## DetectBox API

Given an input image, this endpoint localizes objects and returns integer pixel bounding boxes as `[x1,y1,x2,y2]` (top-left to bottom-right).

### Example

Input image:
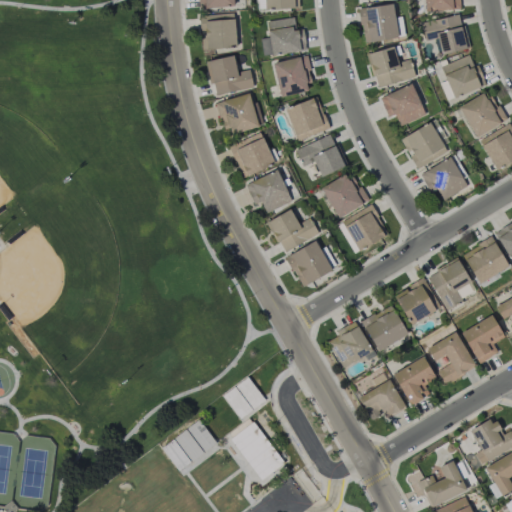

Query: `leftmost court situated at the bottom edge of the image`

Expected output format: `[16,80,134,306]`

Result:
[0,432,20,504]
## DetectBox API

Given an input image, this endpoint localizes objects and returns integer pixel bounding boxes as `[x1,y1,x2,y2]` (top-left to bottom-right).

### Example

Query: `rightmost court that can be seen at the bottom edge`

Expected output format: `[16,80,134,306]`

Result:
[16,436,57,508]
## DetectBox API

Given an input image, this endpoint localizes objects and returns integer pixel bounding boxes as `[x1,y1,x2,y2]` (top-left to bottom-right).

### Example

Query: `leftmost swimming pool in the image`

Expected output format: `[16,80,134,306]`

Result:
[276,114,292,136]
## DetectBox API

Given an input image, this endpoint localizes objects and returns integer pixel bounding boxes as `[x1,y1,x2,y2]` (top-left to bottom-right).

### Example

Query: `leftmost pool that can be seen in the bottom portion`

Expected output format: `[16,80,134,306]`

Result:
[346,362,366,377]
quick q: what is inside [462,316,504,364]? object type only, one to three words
house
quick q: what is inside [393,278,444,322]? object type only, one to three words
house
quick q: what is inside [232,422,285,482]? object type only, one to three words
building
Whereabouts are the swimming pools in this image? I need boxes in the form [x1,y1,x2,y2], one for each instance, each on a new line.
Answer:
[424,43,432,58]
[346,362,366,377]
[415,320,436,332]
[276,114,292,136]
[406,42,417,57]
